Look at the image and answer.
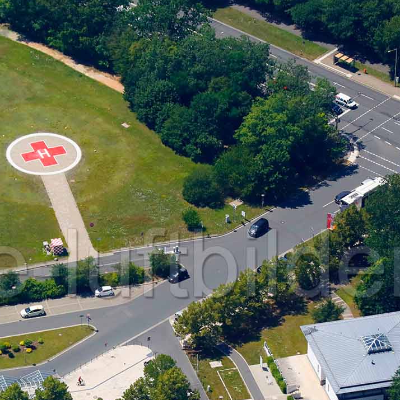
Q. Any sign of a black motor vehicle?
Yes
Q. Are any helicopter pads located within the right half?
No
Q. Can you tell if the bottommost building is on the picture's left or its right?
right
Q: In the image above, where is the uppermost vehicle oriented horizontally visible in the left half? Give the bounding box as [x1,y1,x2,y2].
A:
[92,283,115,297]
